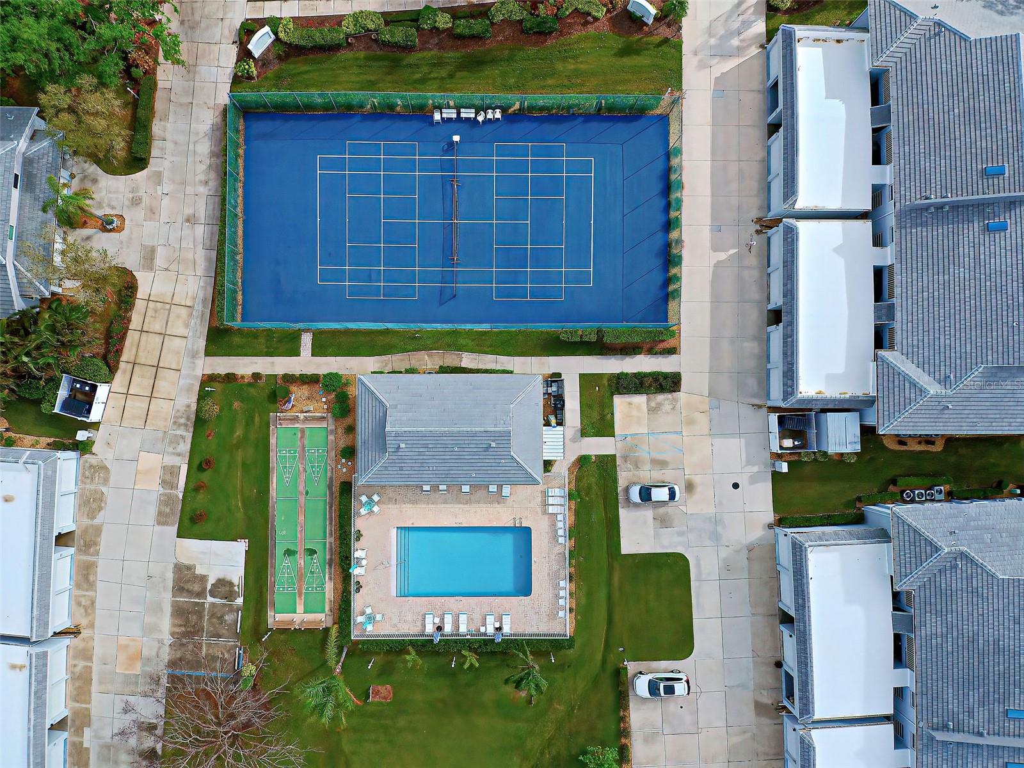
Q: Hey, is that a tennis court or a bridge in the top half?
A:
tennis court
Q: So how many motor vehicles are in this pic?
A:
2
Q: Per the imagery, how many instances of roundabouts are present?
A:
0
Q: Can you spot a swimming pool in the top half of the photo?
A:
No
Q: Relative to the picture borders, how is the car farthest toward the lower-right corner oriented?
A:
from left to right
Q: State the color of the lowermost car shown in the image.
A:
white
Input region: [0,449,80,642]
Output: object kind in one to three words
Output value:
building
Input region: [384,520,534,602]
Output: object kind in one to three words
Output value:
swimming pool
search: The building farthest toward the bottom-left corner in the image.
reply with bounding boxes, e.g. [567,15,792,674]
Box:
[0,631,70,768]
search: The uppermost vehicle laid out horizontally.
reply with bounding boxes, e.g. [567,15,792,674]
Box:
[627,481,681,507]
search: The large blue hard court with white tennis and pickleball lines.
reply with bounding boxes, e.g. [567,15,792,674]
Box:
[233,111,680,330]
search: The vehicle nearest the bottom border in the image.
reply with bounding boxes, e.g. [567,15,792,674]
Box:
[632,669,691,699]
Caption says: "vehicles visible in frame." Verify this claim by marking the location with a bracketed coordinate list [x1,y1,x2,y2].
[627,481,681,507]
[632,669,691,699]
